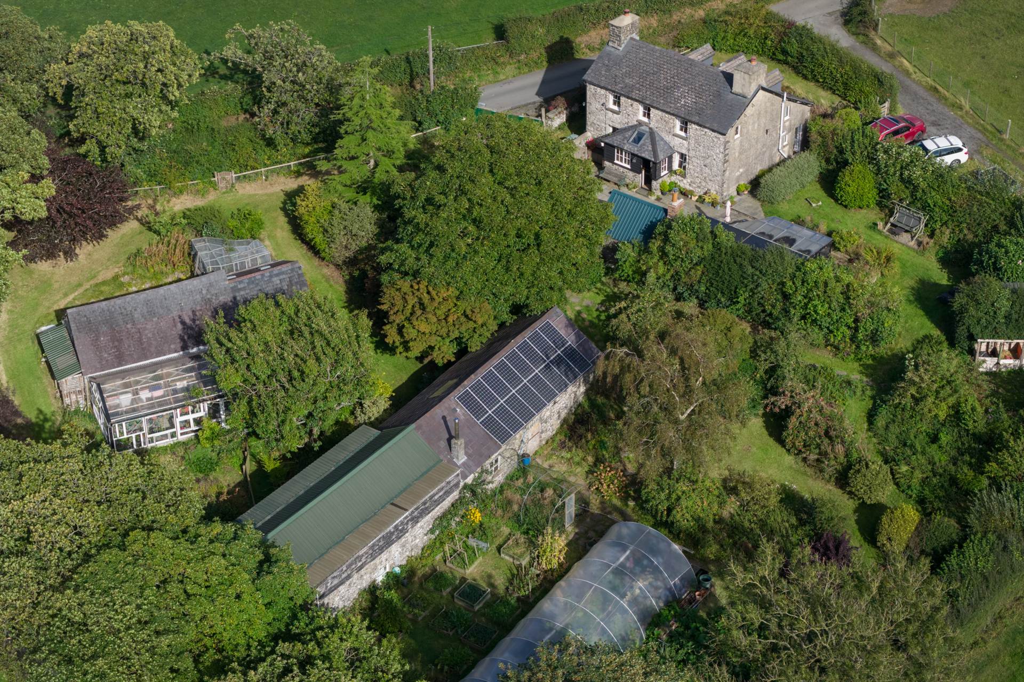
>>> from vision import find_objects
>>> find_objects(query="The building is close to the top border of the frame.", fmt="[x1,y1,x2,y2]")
[582,11,814,197]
